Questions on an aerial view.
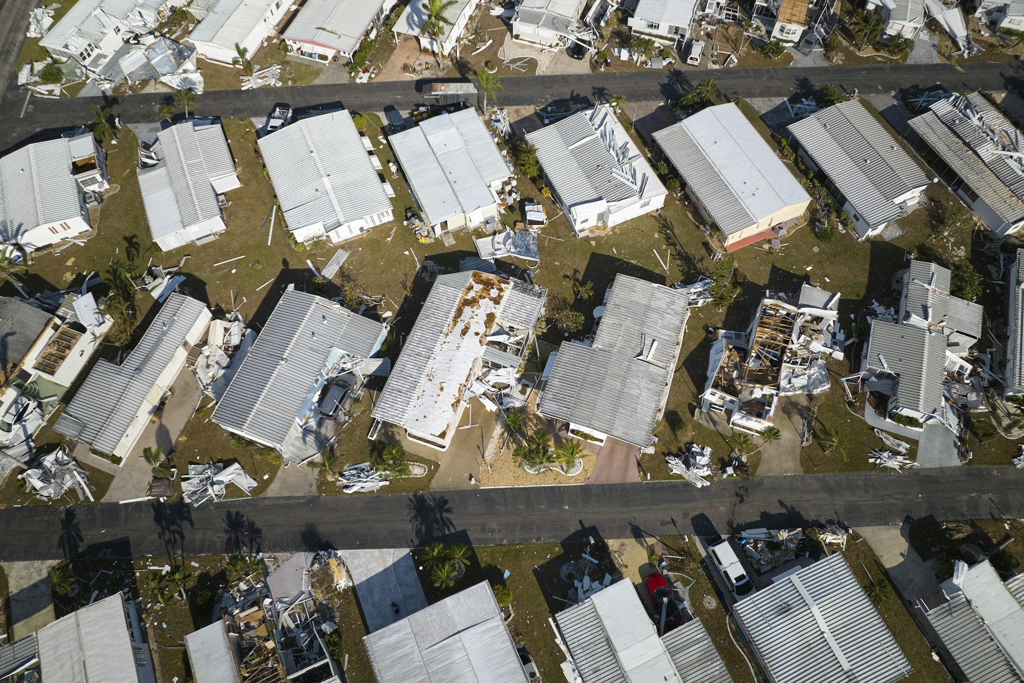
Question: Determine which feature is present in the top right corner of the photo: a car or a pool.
car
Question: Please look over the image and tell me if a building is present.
Yes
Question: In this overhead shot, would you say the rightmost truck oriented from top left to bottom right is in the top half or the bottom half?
bottom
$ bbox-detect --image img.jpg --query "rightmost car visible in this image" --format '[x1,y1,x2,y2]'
[804,22,831,48]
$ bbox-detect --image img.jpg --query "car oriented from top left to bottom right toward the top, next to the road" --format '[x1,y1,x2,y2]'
[382,99,410,133]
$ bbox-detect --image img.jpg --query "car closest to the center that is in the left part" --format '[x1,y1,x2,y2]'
[315,370,356,413]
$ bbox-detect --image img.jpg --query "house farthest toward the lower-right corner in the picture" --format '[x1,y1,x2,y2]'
[926,560,1024,683]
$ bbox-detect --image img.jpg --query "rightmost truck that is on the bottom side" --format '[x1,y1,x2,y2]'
[709,536,759,601]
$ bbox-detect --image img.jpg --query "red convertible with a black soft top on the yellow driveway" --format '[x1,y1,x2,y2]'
[646,569,690,629]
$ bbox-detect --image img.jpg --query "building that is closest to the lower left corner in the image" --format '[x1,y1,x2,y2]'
[0,591,152,683]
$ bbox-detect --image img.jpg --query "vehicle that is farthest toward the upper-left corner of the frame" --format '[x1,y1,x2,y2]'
[260,95,291,135]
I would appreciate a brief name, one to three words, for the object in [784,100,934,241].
house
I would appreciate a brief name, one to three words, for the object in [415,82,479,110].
trailer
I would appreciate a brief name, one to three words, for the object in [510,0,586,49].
house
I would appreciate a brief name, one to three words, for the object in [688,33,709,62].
car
